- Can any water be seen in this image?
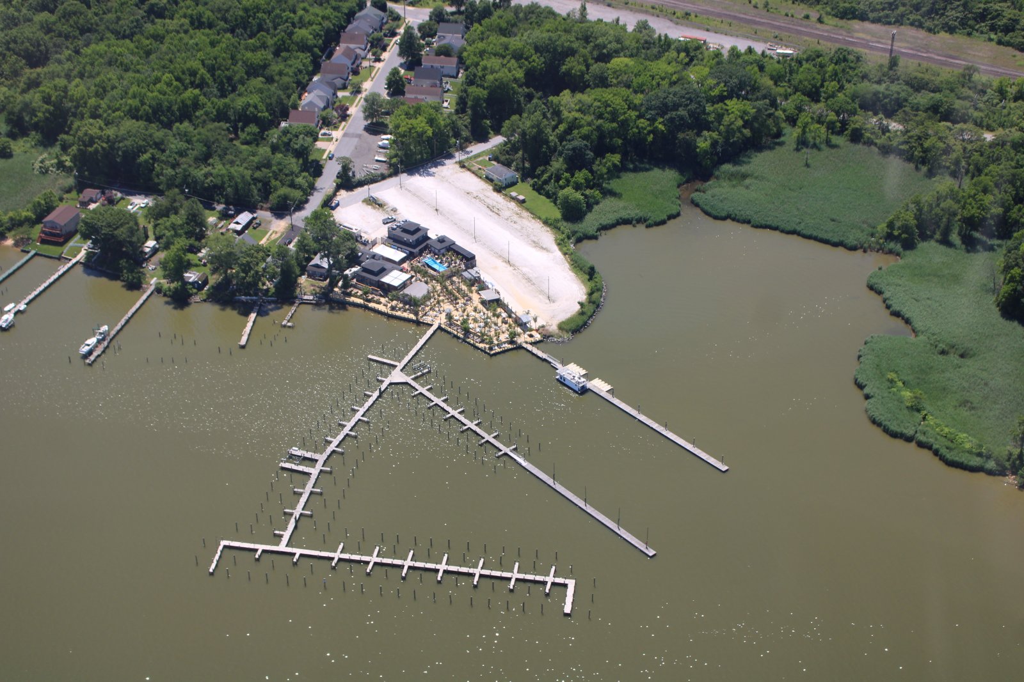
Yes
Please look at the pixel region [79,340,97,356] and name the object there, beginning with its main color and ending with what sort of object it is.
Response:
white boat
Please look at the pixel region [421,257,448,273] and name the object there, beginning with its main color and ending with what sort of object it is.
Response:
blue swimming pool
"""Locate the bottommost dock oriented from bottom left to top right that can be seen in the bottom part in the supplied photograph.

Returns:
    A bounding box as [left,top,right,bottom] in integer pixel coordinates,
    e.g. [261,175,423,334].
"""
[272,373,394,548]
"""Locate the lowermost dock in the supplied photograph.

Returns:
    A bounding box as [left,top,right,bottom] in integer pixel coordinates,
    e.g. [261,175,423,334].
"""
[207,540,578,619]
